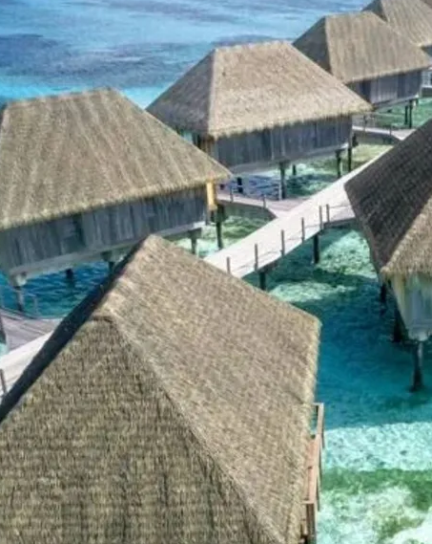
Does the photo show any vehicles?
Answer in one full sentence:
No, the picture doesn't show any vehicle.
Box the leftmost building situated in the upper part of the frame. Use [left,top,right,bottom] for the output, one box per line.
[0,86,229,329]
